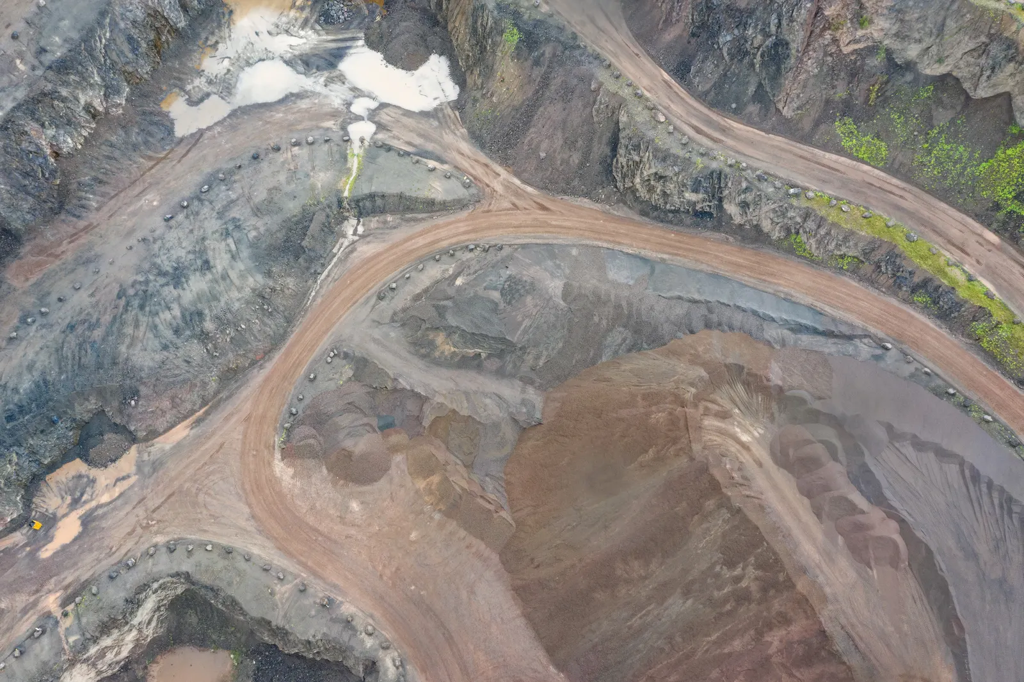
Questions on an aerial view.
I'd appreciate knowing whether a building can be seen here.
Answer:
No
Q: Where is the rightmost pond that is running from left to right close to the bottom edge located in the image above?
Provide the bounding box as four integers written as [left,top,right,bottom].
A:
[148,645,235,682]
